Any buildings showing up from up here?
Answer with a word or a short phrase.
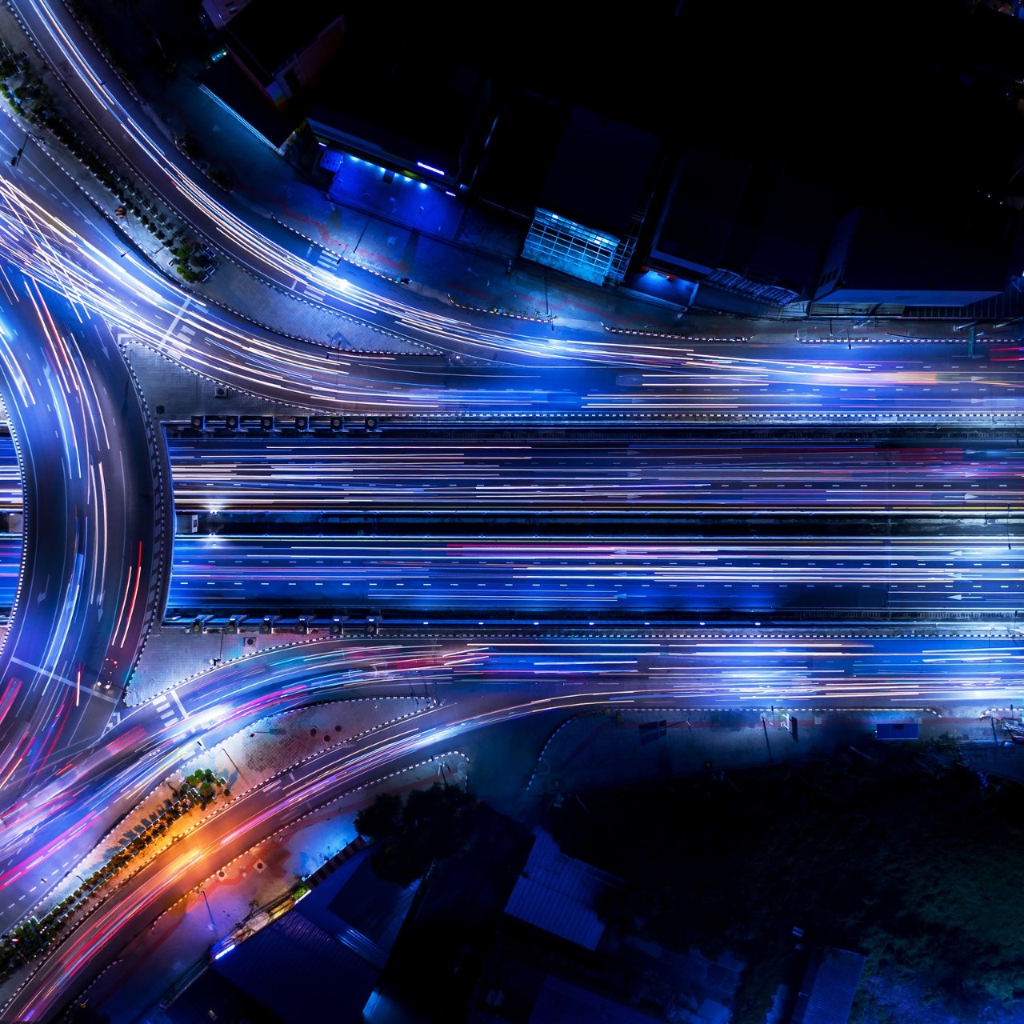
Yes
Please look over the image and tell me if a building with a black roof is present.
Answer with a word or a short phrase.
Yes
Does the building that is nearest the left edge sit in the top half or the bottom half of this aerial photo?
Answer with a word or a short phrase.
top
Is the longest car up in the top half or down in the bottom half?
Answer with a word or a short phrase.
bottom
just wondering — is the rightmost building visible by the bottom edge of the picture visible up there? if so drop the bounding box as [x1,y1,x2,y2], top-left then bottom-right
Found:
[793,927,866,1024]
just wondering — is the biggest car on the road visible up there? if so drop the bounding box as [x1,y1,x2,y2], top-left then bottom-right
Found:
[96,659,116,690]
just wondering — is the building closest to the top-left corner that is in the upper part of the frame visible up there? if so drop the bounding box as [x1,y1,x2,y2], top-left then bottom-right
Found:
[100,0,184,58]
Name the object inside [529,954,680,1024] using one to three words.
house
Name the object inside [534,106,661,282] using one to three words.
building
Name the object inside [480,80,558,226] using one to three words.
building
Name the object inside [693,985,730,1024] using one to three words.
shed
